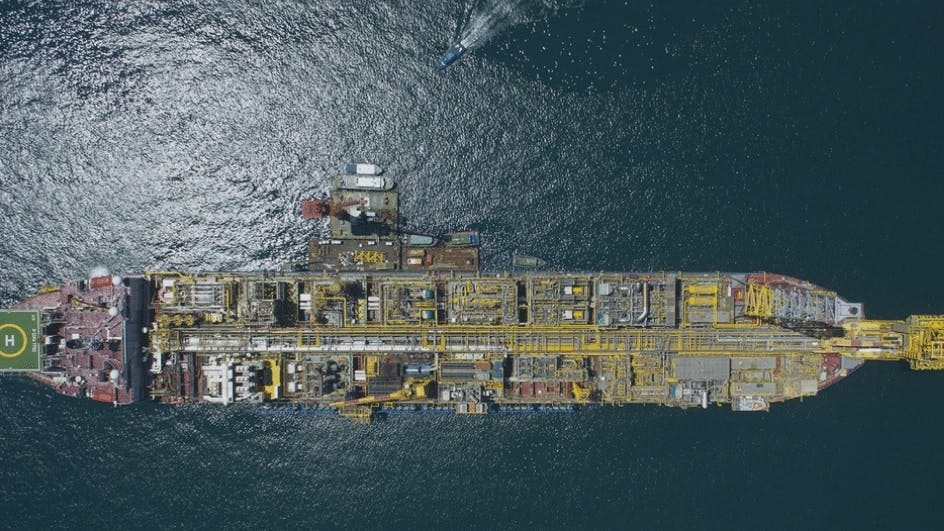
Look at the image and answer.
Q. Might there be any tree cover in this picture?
No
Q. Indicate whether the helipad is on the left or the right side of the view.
left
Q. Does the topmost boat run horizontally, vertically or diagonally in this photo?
diagonally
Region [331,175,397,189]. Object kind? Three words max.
boat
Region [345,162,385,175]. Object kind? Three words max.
boat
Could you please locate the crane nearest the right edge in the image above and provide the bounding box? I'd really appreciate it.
[337,379,427,407]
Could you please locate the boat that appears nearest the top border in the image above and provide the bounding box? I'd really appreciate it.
[439,41,467,70]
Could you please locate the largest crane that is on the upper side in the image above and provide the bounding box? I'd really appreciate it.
[301,198,371,226]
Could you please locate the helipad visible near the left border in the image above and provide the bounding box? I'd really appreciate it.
[0,308,60,374]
